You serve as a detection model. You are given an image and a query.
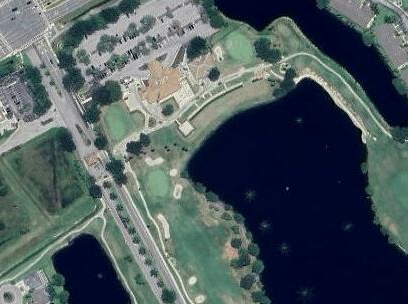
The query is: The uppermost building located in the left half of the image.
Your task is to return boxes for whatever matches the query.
[138,59,184,106]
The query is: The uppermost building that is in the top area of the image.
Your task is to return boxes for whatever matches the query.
[327,0,375,28]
